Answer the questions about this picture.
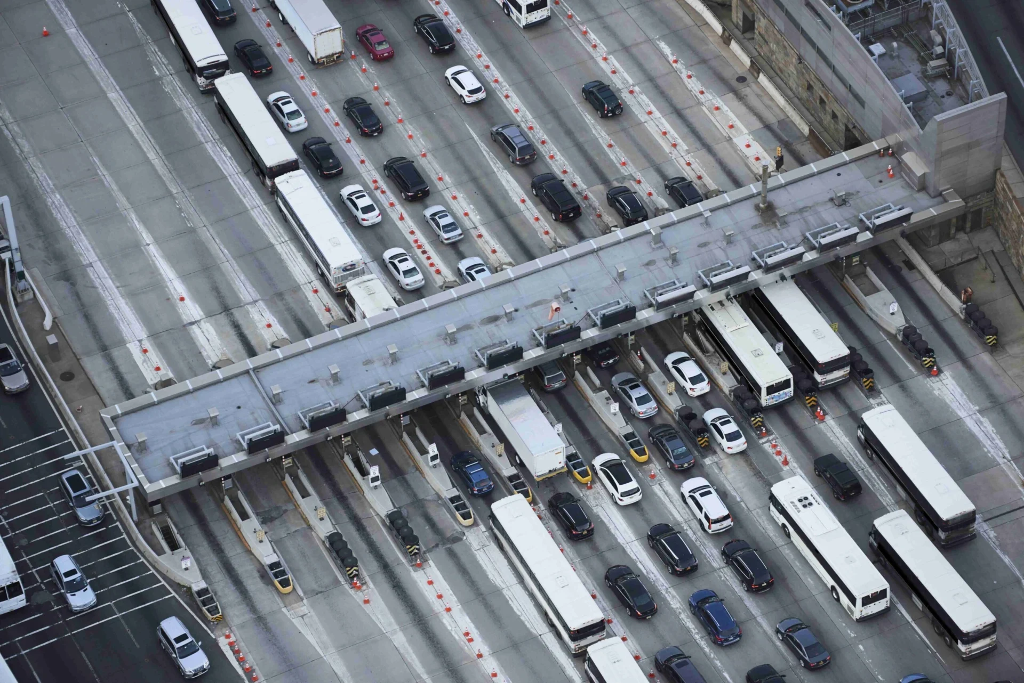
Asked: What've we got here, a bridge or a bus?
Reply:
bus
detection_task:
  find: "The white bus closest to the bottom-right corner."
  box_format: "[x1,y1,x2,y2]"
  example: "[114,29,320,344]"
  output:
[868,511,994,665]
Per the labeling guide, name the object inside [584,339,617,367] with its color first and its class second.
black car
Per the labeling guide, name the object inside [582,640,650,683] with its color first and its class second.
white bus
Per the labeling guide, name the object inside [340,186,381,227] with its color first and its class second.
white car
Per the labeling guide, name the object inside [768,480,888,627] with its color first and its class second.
white bus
